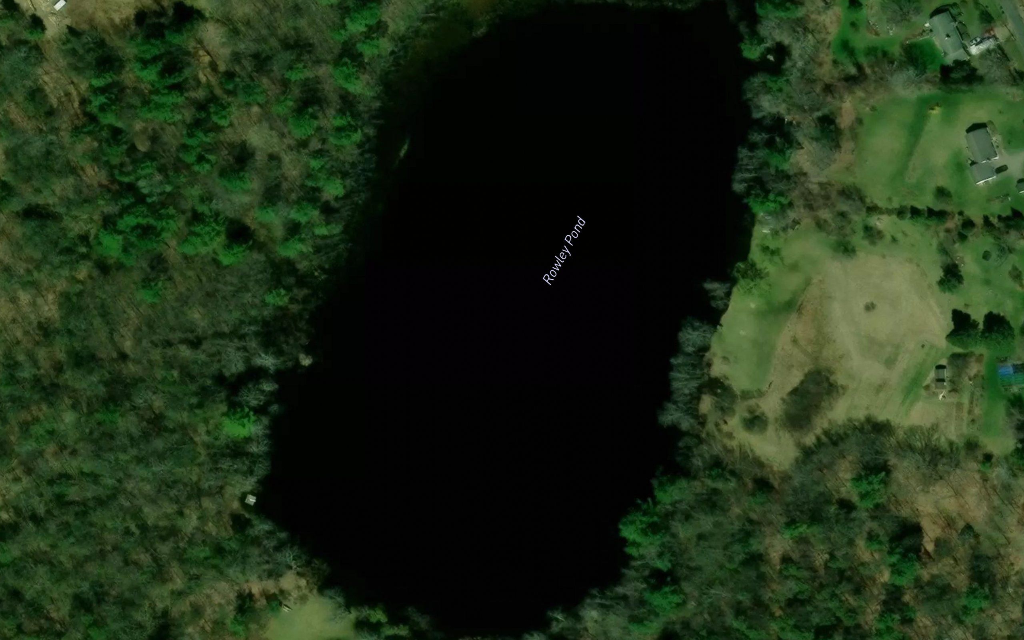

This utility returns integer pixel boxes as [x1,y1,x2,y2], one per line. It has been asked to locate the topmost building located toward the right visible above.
[928,8,970,61]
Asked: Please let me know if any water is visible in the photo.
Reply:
Yes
